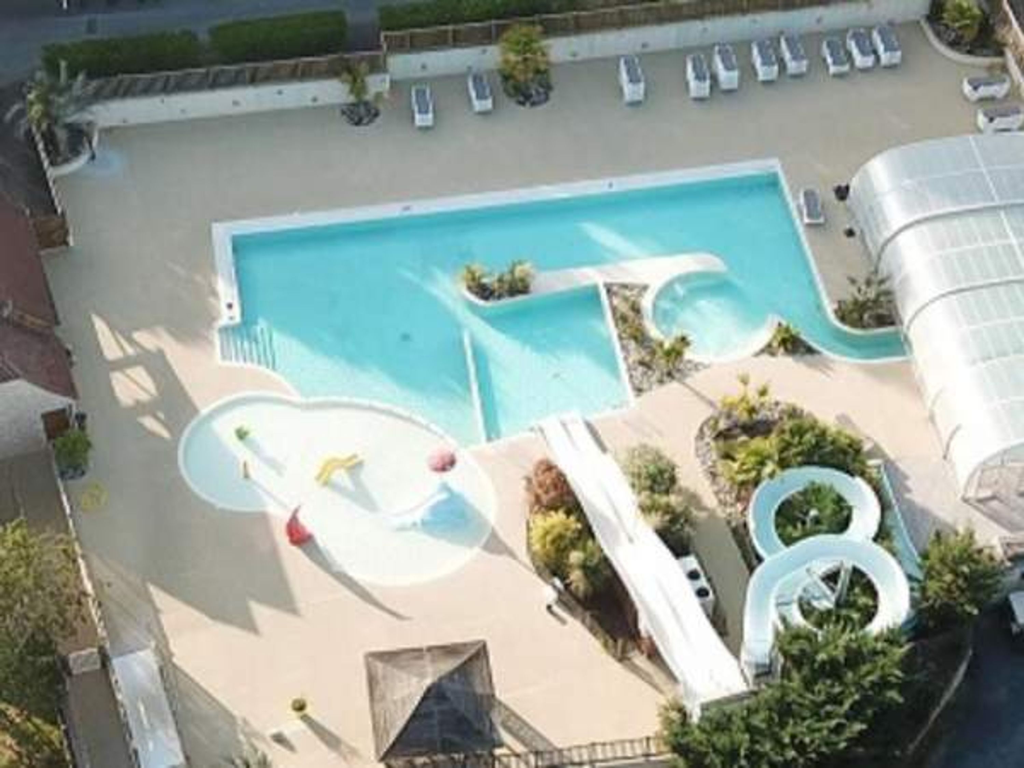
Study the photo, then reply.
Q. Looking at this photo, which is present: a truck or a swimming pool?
swimming pool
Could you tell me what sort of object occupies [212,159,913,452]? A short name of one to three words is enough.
swimming pool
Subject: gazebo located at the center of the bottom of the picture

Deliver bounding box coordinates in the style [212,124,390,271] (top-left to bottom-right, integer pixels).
[364,640,504,768]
